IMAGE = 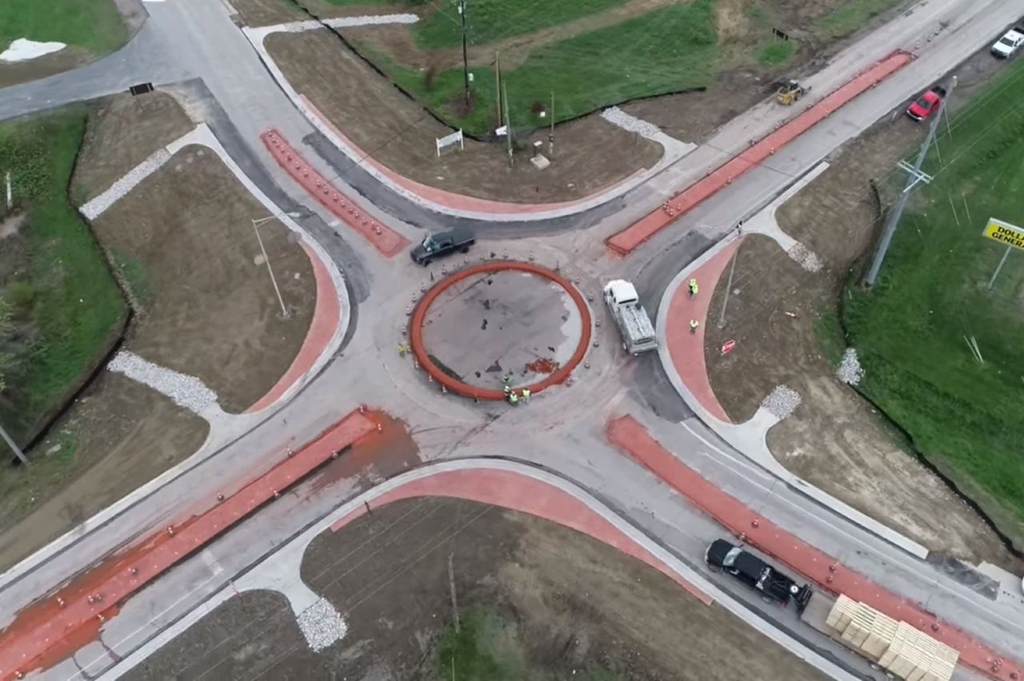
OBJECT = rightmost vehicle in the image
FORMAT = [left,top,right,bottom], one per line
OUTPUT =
[993,23,1024,59]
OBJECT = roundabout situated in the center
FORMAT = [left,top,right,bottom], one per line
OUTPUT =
[339,219,662,461]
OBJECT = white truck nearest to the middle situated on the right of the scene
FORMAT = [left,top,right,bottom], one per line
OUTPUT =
[597,278,660,355]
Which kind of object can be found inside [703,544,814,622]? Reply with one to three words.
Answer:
truck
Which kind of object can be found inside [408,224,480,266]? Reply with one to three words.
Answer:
truck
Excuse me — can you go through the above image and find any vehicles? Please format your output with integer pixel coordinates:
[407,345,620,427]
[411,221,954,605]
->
[779,78,812,107]
[597,278,660,355]
[703,544,814,622]
[907,86,954,125]
[408,224,480,266]
[993,23,1024,59]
